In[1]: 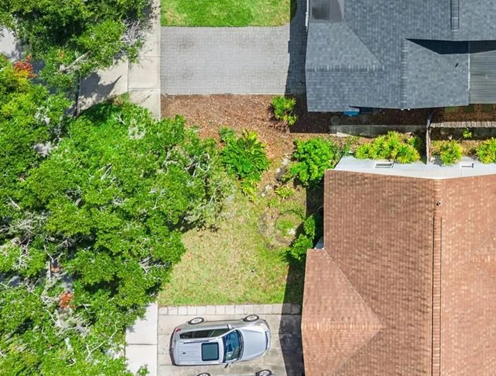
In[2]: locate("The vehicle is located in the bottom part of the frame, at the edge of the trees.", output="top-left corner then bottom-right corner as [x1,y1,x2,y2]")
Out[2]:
[170,318,272,373]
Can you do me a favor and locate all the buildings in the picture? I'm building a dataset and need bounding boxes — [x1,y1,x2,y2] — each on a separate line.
[297,157,496,376]
[302,0,496,112]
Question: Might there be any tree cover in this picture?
Yes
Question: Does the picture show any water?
No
